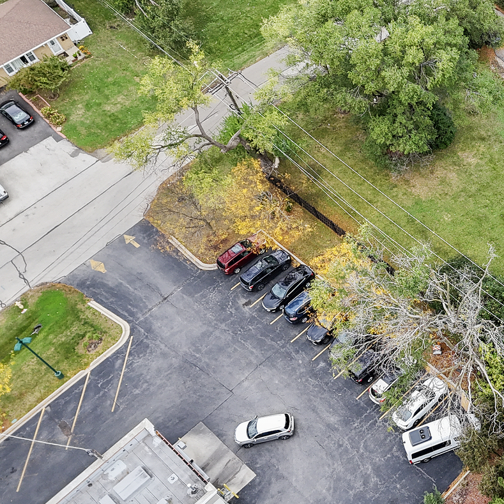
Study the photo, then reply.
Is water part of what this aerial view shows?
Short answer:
No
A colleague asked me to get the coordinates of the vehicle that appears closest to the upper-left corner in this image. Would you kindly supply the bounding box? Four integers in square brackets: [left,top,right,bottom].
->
[0,98,40,130]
